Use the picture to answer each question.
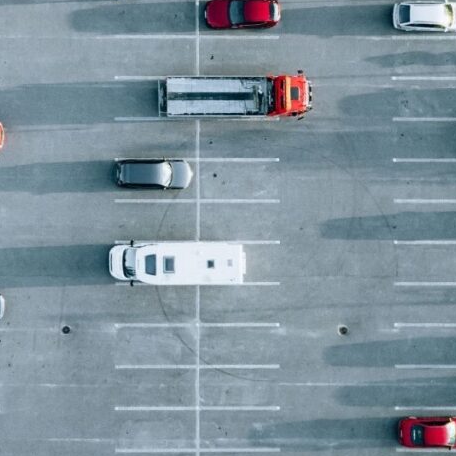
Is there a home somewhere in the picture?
No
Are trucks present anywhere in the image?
Yes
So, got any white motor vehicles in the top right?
Yes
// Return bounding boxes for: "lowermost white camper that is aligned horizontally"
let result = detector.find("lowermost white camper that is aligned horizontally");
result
[108,239,247,286]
